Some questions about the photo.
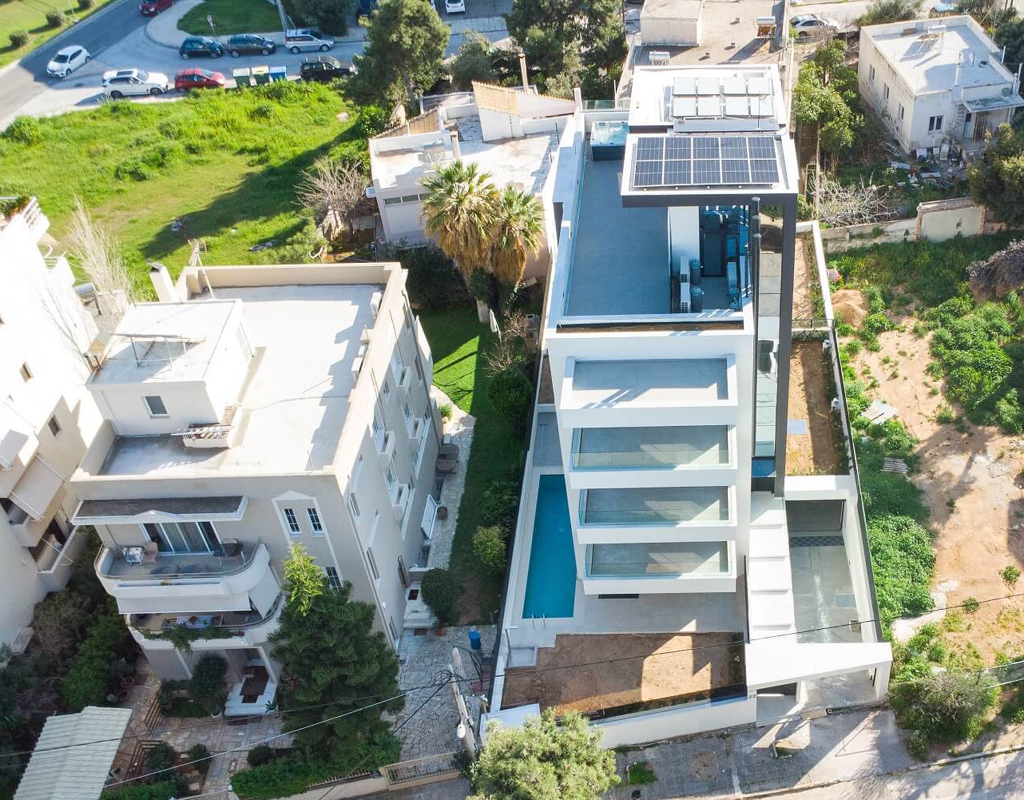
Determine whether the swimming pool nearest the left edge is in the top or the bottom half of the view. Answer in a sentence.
You can find the swimming pool nearest the left edge in the bottom half.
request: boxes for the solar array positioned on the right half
[635,137,779,191]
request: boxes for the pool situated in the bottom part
[515,470,578,628]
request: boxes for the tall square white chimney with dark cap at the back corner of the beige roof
[130,242,172,297]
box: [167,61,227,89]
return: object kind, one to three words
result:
car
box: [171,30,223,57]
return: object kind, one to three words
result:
car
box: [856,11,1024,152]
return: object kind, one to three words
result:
house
